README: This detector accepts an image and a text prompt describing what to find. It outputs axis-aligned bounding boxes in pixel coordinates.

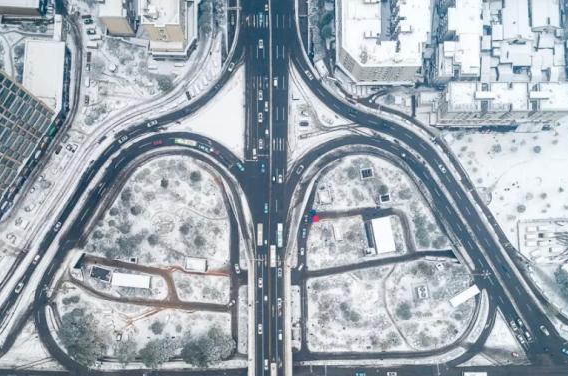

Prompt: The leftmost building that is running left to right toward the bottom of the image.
[112,272,152,288]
